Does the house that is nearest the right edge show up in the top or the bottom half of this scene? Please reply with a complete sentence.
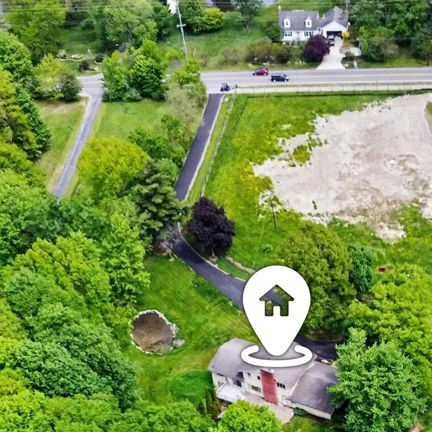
Seen from above, the house that is nearest the right edge lies in the top half of the view.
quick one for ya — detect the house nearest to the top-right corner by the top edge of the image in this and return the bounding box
[279,6,351,40]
